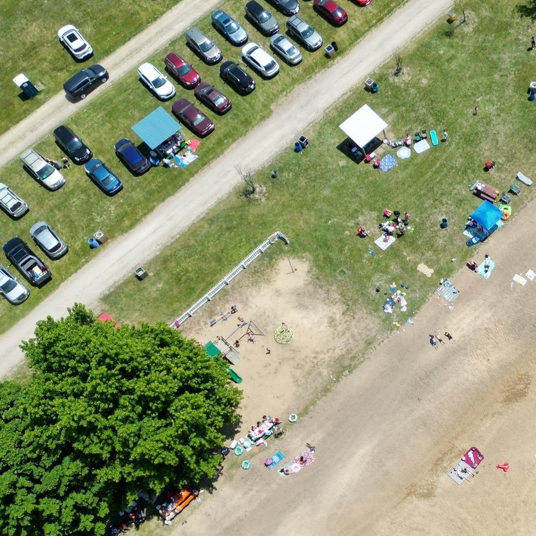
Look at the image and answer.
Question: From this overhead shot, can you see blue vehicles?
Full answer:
Yes, there's a blue vehicle here.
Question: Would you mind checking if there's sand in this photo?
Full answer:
Yes, sand can be seen from above here.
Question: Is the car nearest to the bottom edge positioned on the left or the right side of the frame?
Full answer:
It is on the left.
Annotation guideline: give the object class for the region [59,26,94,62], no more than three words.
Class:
car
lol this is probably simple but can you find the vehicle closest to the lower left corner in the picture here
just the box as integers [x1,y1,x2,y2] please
[0,266,29,304]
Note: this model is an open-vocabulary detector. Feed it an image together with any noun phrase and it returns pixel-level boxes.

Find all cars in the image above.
[49,123,93,166]
[30,223,69,257]
[59,65,113,100]
[114,139,153,177]
[162,49,201,87]
[184,25,223,65]
[0,184,31,220]
[219,62,257,97]
[59,26,94,62]
[267,0,299,17]
[270,35,304,67]
[137,62,175,101]
[313,0,349,29]
[243,46,281,79]
[172,102,215,139]
[211,10,246,46]
[19,148,64,189]
[244,0,280,36]
[3,238,54,285]
[285,15,322,51]
[196,84,234,116]
[85,160,125,197]
[0,266,29,304]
